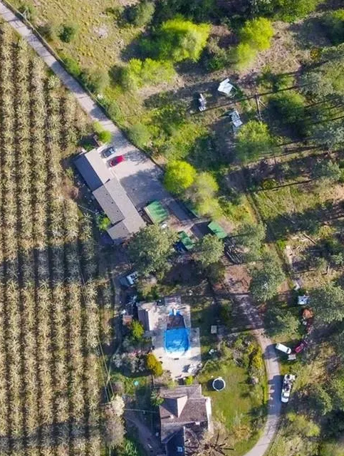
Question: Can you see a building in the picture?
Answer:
Yes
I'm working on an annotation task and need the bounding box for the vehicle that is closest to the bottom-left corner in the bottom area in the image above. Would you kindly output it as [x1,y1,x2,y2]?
[119,272,137,287]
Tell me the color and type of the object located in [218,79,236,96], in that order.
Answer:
white camper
